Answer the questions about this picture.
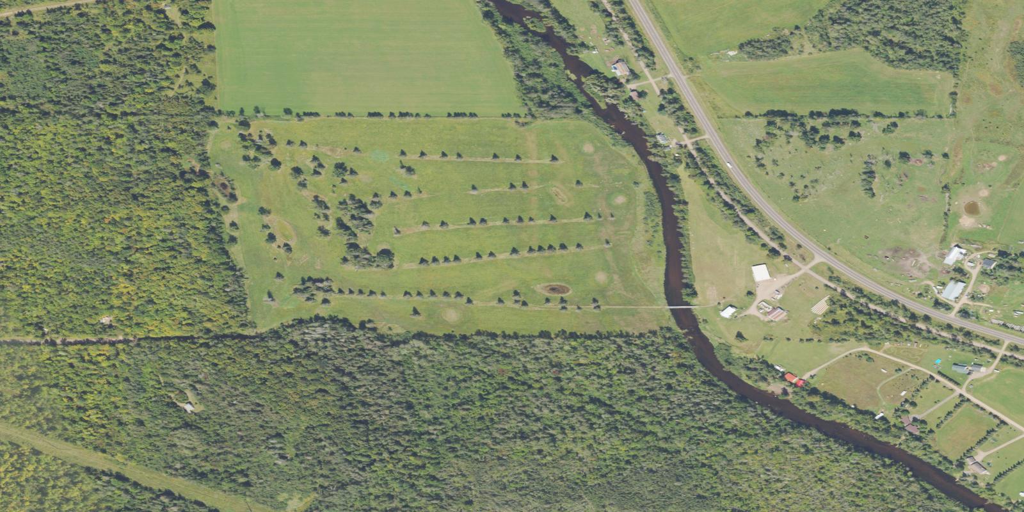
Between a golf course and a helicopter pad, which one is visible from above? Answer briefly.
golf course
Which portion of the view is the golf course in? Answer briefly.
center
